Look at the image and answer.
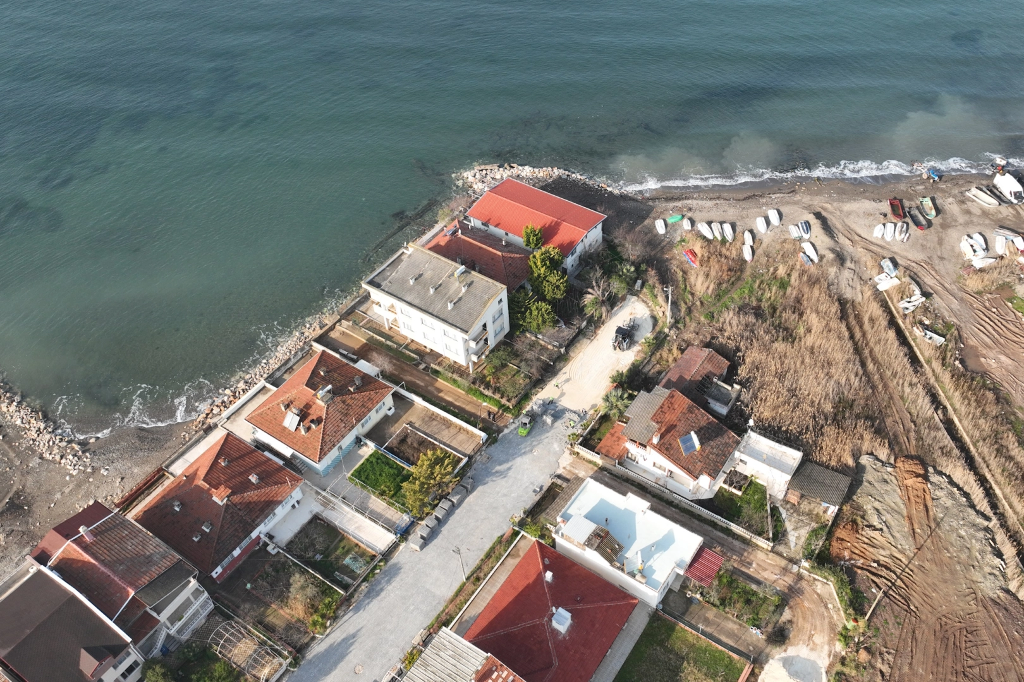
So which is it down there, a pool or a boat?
boat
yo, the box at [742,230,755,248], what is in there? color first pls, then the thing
white boat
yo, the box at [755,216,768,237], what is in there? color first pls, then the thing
white boat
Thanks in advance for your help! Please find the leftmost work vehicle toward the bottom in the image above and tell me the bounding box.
[515,411,534,437]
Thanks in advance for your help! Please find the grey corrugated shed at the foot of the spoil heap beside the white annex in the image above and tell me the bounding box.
[782,460,851,517]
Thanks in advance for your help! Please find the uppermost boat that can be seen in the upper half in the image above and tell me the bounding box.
[990,156,1012,169]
